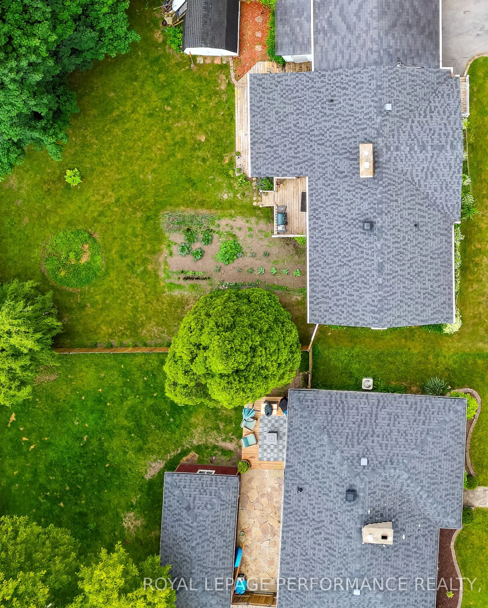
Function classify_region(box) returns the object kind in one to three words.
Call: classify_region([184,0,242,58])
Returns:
shed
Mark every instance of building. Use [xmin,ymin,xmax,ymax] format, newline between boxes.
[184,0,242,58]
[247,0,466,330]
[162,463,242,608]
[276,385,467,608]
